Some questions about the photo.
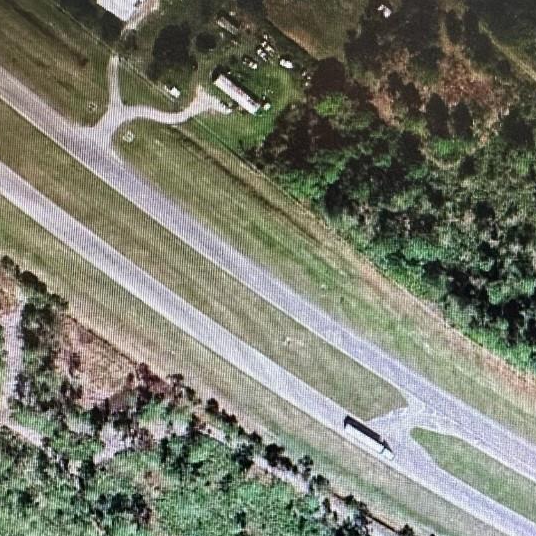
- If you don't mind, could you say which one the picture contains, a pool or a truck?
truck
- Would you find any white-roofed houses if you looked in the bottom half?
No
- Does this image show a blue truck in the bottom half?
No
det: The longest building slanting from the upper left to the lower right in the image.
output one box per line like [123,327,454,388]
[214,74,260,114]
